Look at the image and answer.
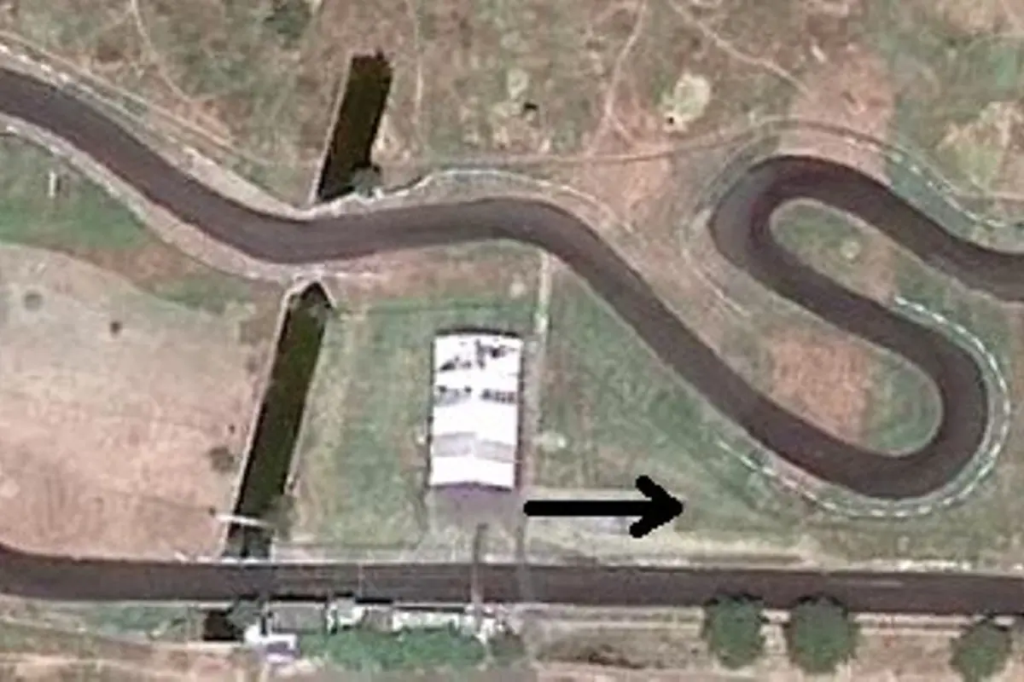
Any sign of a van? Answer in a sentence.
No, the photo shows no van.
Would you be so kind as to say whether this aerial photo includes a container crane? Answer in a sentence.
No, the picture doesn't show any container crane.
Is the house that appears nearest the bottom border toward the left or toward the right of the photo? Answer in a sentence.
The house that appears nearest the bottom border appears in the left half of the scene.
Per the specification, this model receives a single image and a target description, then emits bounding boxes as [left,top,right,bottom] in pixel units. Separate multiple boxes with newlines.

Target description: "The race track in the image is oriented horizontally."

[0,66,1024,499]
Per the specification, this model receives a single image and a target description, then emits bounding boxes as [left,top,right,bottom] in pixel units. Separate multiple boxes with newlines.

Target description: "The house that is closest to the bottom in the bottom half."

[257,634,298,663]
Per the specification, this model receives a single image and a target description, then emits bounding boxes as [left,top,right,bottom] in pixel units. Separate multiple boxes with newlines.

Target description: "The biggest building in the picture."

[428,336,523,491]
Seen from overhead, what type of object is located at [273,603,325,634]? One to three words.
shed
